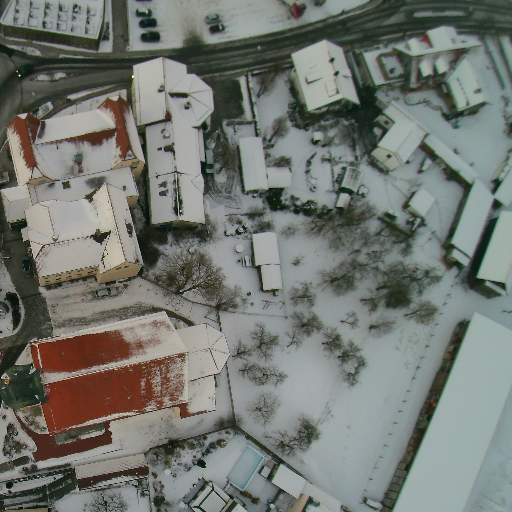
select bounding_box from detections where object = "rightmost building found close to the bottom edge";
[388,313,512,512]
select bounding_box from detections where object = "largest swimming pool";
[227,445,270,489]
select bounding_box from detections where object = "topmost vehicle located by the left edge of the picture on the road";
[15,63,36,77]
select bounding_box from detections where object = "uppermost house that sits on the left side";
[133,57,214,137]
